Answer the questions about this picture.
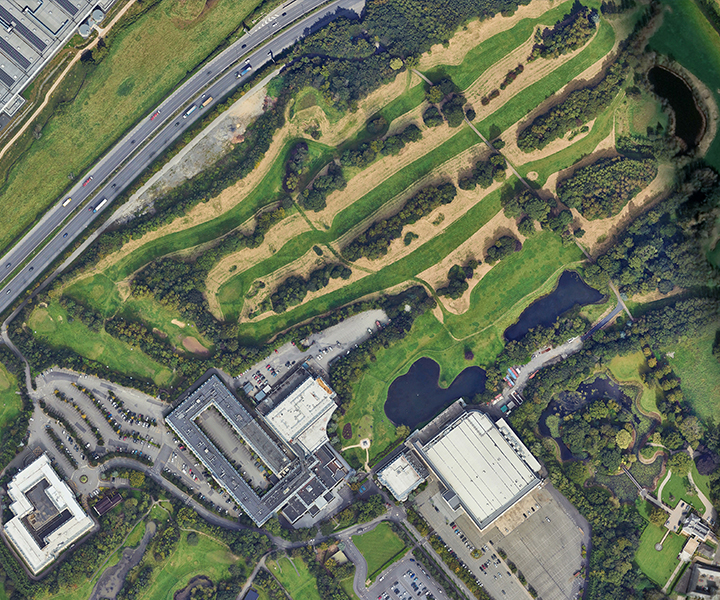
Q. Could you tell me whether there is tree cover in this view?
Yes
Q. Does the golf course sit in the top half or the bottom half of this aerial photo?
top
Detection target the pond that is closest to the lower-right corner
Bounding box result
[540,370,664,504]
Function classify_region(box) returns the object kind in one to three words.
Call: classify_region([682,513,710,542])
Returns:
house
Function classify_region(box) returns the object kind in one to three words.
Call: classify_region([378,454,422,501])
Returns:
building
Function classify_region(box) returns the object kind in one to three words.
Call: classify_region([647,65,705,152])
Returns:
pond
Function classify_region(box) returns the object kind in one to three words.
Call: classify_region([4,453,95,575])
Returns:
building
